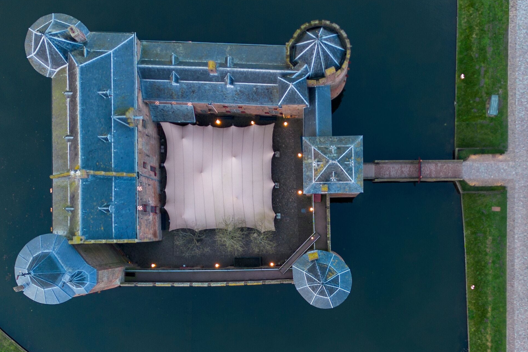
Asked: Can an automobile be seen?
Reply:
No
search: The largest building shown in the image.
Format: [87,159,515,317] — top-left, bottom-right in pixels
[14,13,364,309]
